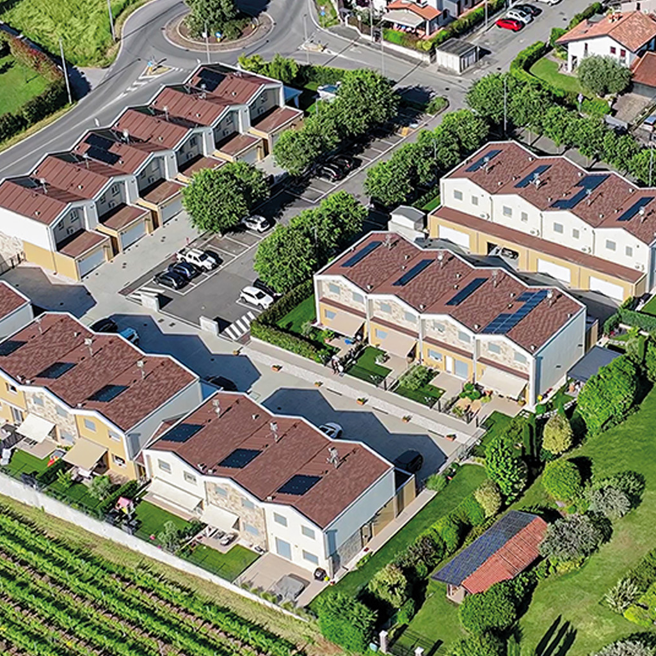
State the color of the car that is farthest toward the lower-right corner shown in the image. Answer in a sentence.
The color of the car that is farthest toward the lower-right corner is black.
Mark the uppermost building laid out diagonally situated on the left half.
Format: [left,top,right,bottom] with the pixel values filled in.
[0,56,294,281]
